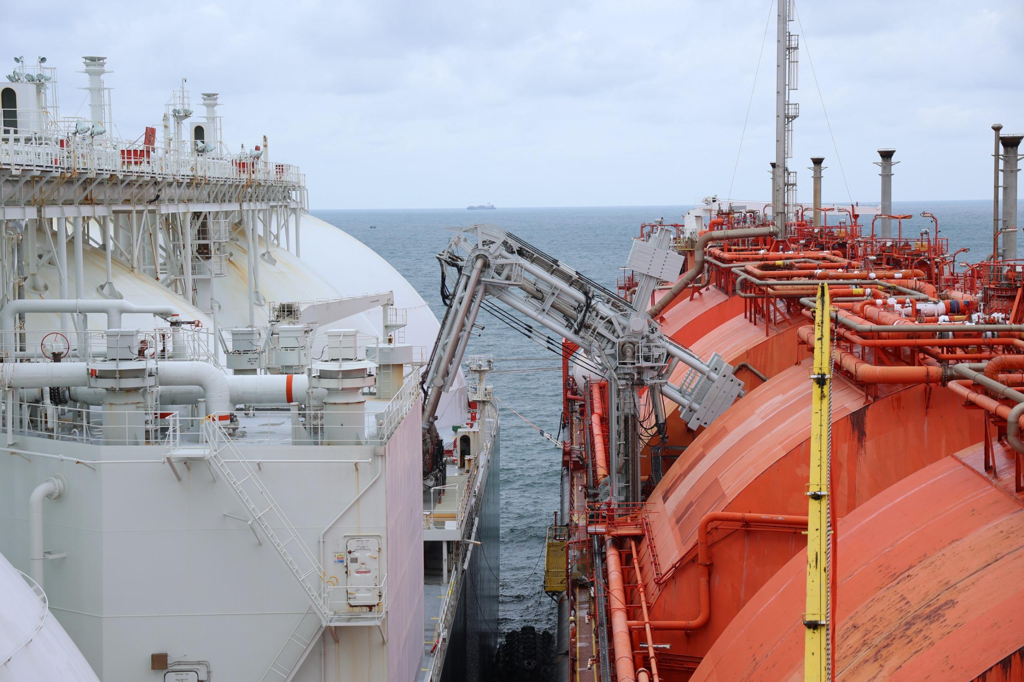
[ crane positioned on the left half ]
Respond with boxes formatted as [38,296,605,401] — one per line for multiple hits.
[267,287,395,374]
